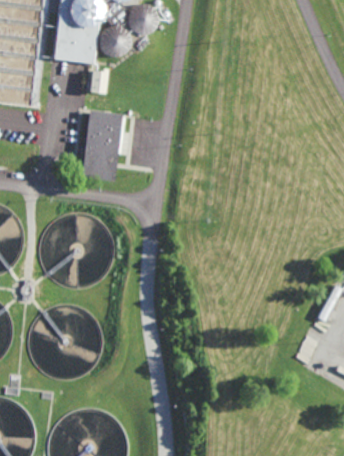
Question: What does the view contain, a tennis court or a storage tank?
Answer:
storage tank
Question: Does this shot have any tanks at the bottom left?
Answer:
Yes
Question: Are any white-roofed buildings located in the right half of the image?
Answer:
No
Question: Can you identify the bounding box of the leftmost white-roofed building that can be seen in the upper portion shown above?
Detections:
[55,0,99,65]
